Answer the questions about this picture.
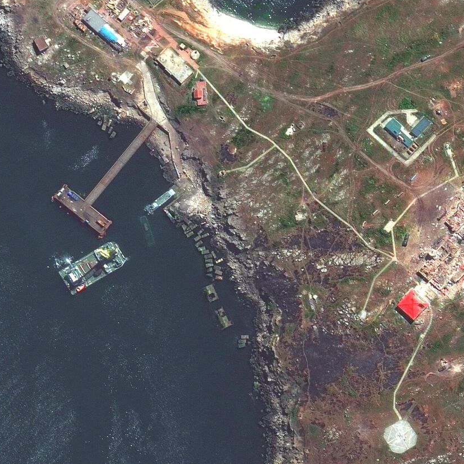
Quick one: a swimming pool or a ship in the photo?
ship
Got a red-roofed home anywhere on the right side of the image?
Yes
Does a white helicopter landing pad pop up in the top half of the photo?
No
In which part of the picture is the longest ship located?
left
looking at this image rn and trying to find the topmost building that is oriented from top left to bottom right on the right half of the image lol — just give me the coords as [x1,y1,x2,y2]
[384,117,413,149]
